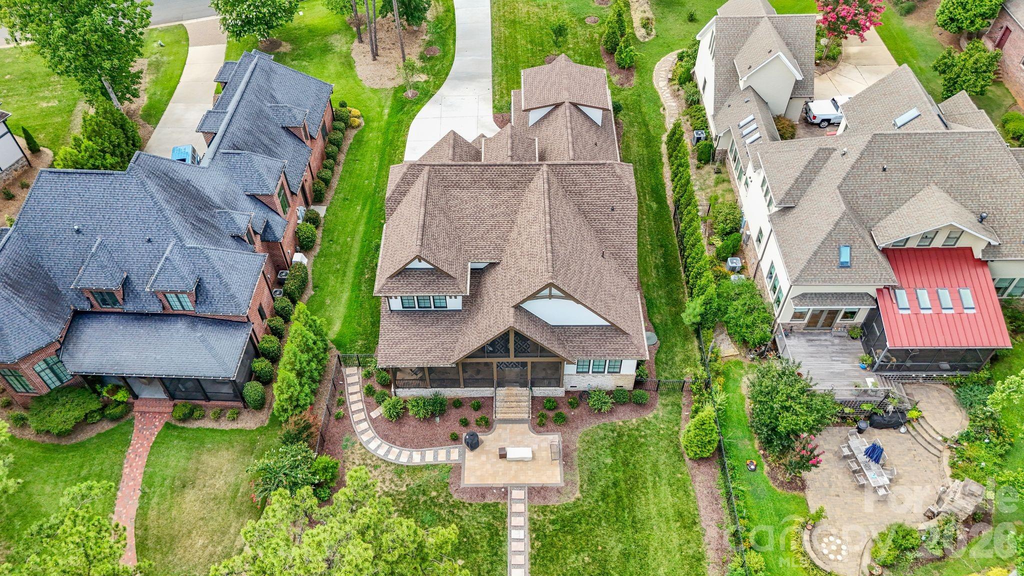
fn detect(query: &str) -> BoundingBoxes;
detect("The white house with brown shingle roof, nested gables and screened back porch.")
[371,52,651,398]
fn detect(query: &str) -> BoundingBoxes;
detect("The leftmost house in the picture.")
[0,110,33,181]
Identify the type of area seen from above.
residential area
